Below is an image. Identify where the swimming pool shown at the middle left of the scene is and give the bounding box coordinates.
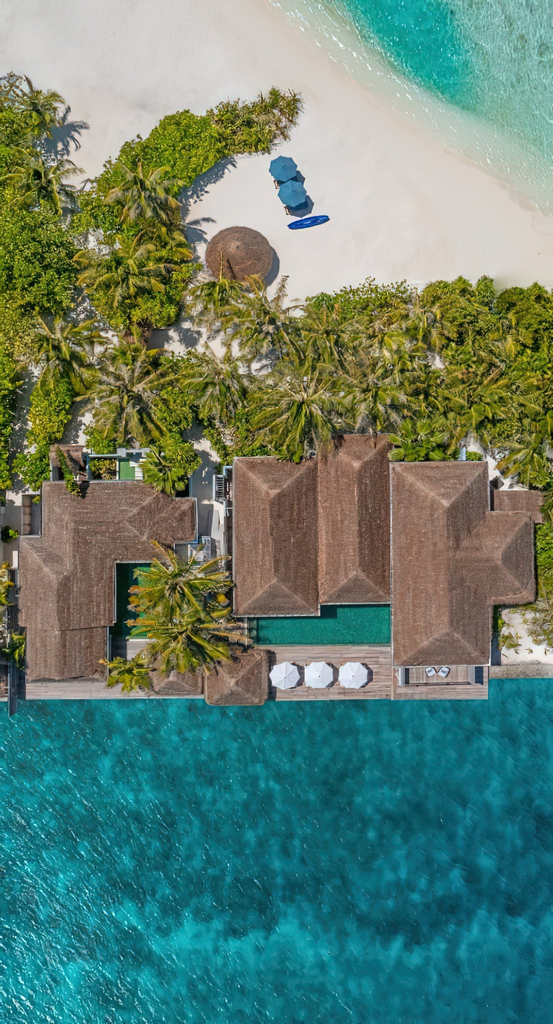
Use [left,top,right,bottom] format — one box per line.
[111,558,176,638]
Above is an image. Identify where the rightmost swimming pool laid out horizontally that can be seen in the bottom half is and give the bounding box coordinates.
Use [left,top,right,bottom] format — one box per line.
[248,604,391,646]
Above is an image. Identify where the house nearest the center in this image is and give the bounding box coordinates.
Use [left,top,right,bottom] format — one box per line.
[232,435,391,617]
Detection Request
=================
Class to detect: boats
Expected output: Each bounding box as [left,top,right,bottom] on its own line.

[288,215,330,229]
